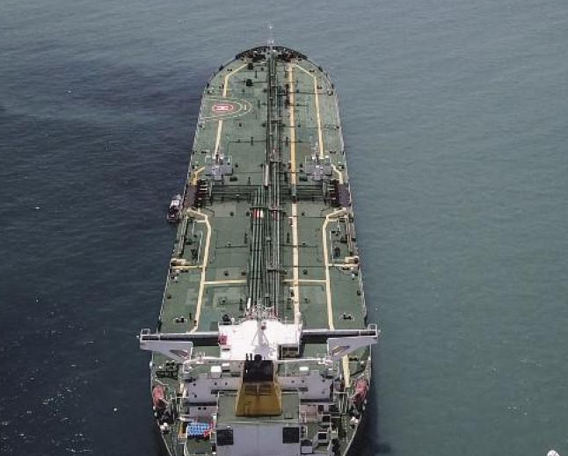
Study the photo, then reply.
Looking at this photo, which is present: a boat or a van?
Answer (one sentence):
Looking from above, you can make out a boat.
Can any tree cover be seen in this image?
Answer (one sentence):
No, there is no tree cover in the image.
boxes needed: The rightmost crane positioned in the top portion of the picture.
[303,145,329,186]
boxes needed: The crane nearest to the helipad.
[203,146,231,187]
